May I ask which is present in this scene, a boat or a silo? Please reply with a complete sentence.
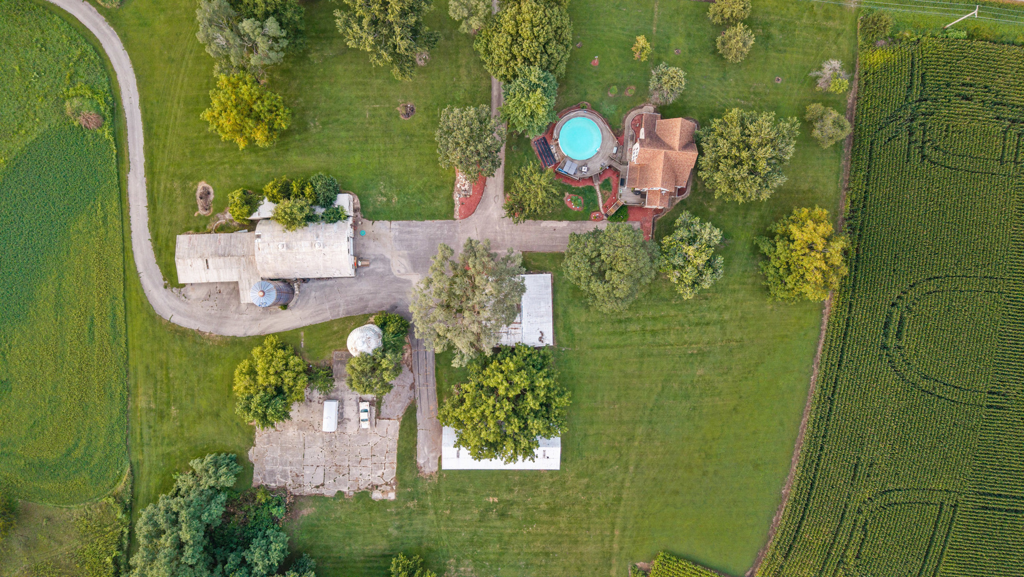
It is a silo that can be seen here.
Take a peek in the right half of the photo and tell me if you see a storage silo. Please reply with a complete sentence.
No, there is no storage silo in the right half of the photo.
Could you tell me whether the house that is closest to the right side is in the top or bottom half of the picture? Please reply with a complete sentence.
The top half of the photo is where the house that is closest to the right side is.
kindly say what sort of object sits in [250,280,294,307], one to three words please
silo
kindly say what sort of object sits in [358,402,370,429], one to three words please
vehicle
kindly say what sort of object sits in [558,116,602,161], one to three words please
swimming pool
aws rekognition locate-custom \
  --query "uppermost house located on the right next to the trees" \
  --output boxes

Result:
[625,112,698,209]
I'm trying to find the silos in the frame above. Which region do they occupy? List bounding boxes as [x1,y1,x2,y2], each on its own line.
[250,280,294,307]
[346,325,379,359]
